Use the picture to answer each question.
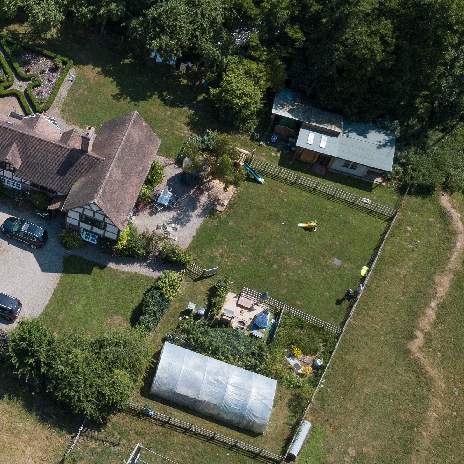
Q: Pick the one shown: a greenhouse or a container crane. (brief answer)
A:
greenhouse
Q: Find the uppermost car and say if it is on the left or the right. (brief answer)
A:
left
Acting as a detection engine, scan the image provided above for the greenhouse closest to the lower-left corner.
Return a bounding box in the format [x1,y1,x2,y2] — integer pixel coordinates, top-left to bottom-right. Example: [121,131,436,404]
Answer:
[150,340,278,434]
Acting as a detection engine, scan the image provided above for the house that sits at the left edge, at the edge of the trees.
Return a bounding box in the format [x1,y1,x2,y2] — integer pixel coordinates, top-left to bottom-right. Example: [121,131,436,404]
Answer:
[0,109,161,248]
